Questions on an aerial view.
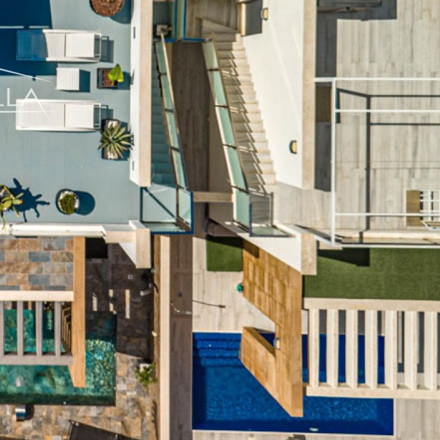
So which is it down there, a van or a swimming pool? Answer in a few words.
swimming pool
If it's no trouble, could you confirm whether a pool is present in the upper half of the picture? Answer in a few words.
No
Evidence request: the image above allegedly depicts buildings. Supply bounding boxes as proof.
[176,0,440,417]
[0,0,193,387]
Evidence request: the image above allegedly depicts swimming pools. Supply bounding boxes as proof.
[0,309,116,397]
[194,334,393,435]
